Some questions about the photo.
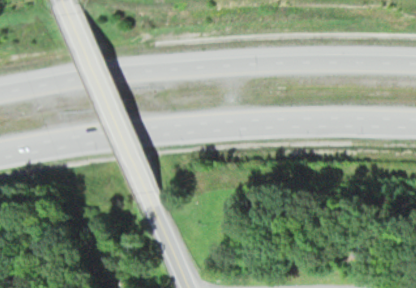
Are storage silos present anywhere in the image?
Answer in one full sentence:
No, I can't see a single storage silo in this photo.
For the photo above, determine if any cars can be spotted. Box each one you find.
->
[86,126,96,132]
[18,147,30,152]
